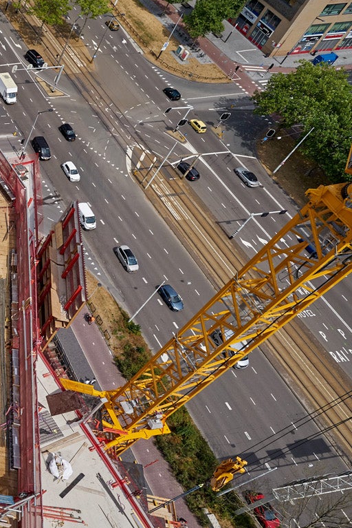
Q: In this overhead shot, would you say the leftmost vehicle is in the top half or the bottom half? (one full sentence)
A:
The leftmost vehicle is in the top half of the image.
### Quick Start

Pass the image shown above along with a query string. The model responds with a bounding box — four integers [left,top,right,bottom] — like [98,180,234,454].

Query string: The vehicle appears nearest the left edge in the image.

[0,71,20,109]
